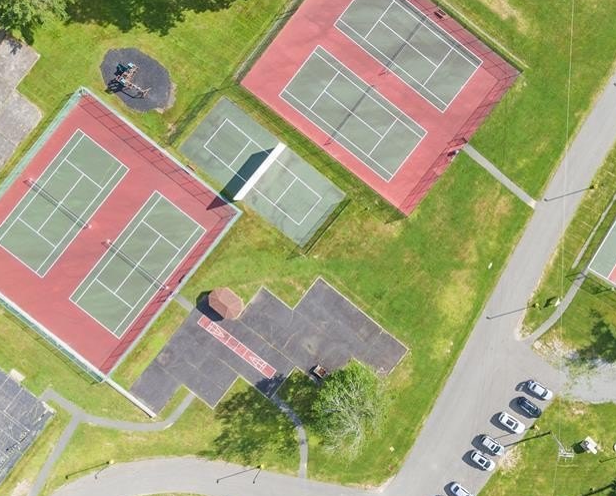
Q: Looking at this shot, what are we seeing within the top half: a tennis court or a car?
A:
tennis court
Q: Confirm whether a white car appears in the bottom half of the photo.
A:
Yes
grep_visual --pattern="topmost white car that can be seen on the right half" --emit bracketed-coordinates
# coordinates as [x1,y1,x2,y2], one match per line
[526,379,553,402]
